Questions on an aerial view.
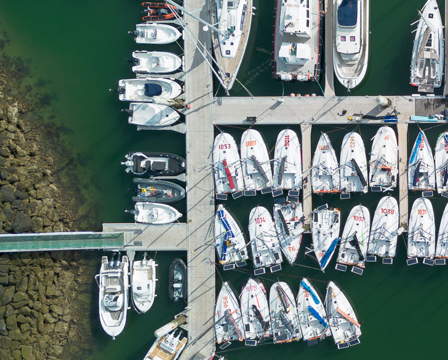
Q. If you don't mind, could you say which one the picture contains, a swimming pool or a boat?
boat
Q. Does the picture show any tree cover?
No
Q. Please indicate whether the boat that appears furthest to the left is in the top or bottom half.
bottom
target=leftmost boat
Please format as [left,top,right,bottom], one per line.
[96,248,132,339]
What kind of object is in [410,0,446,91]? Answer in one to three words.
boat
